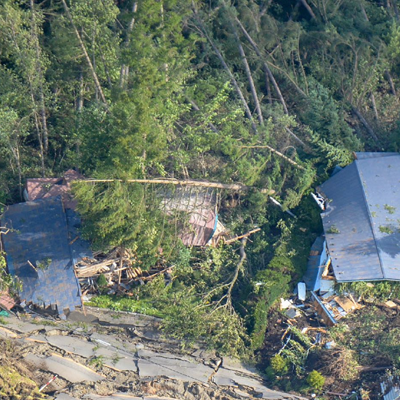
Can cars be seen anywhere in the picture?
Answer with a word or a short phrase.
No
